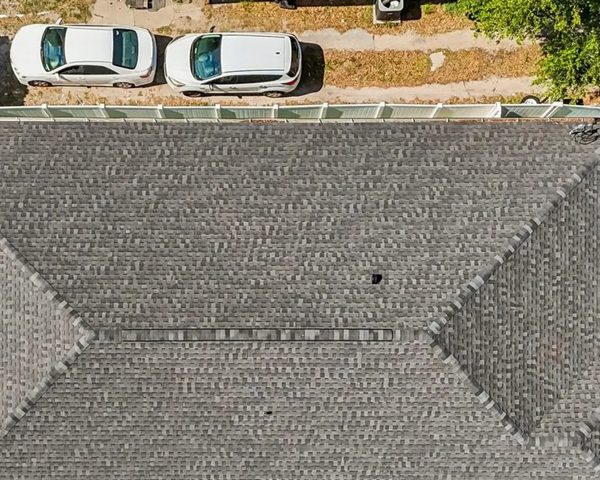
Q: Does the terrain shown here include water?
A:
No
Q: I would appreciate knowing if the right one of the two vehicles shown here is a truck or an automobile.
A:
automobile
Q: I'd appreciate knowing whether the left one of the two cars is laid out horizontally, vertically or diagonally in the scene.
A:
horizontally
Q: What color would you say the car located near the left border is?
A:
white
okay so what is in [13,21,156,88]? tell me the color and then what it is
white car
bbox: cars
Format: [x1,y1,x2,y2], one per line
[166,27,303,96]
[13,21,156,88]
